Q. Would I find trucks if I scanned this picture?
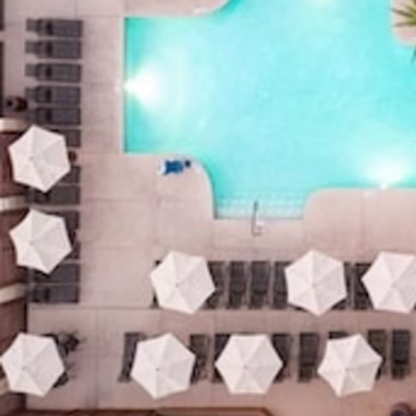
No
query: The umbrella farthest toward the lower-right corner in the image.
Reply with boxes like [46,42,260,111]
[318,332,383,396]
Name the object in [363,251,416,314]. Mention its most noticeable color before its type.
white umbrella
